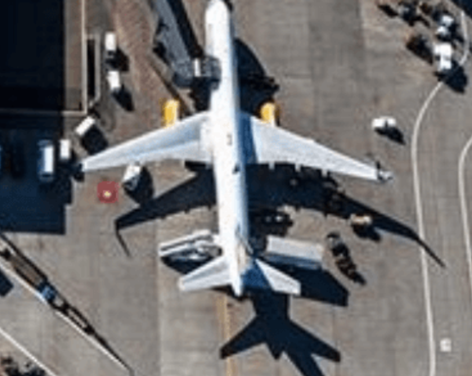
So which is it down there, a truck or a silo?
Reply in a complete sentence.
The one in the frame is a truck.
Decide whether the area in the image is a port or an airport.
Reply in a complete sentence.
This image shows an airport.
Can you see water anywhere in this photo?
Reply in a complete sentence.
No, the picture contains no water.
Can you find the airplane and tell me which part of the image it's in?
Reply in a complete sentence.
The airplane appears toward the center of the photo.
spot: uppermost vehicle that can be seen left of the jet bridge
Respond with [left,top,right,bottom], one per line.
[102,33,119,67]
